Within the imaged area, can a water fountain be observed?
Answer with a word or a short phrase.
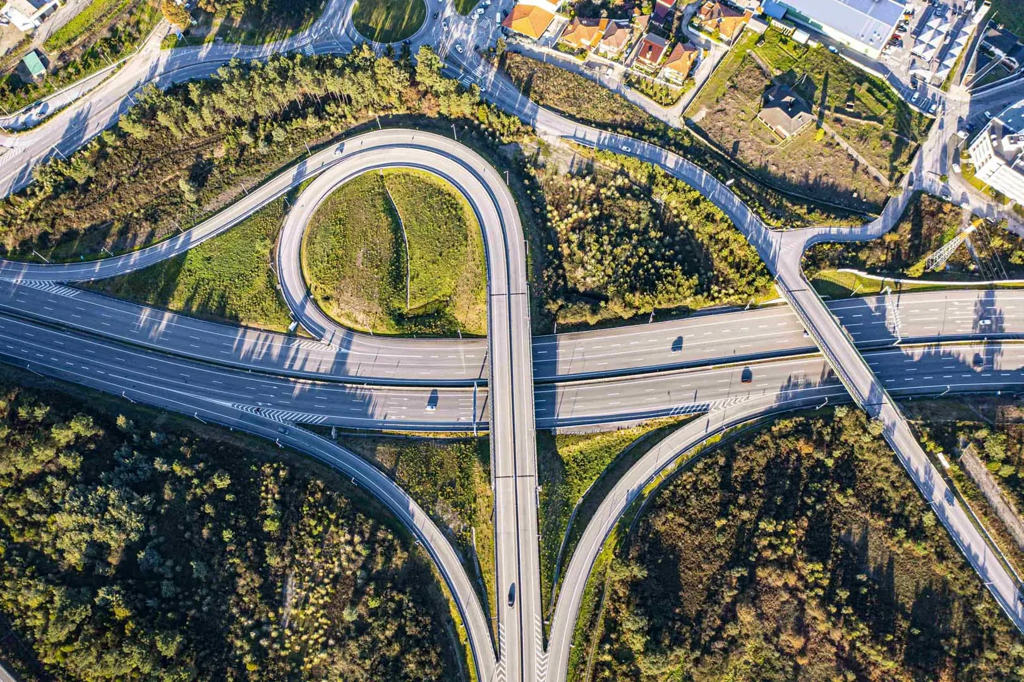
No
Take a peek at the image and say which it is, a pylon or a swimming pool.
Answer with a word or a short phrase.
pylon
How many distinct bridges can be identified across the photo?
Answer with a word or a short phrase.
2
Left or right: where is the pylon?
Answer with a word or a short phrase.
right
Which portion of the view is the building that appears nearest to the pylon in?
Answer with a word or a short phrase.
top right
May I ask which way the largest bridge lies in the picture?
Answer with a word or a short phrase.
up and down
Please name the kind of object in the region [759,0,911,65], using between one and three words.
building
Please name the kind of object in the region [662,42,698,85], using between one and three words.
house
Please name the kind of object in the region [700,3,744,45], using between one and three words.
house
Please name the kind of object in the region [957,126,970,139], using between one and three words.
vehicle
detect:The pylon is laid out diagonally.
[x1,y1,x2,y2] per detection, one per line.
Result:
[915,216,980,275]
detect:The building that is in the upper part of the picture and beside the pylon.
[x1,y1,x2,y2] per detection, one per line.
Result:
[969,99,1024,211]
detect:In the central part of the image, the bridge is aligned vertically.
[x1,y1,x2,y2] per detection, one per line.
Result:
[488,292,538,477]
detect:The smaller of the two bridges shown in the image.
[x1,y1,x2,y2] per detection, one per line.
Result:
[777,281,904,418]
